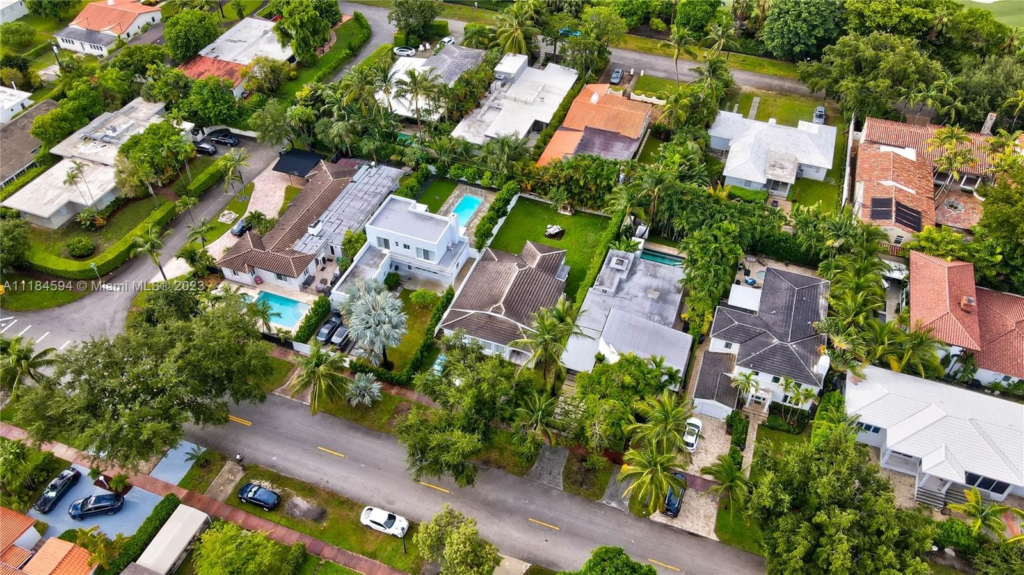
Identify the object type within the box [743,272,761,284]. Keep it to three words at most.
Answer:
umbrella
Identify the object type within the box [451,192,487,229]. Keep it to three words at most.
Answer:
swimming pool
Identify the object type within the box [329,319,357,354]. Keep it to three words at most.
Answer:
car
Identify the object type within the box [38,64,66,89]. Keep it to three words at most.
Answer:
shed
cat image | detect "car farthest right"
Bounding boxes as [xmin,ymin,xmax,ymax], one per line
[812,105,827,124]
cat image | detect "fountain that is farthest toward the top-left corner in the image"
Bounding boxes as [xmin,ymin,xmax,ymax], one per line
[213,209,241,225]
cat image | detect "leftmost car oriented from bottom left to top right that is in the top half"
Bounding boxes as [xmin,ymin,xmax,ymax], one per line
[227,214,257,237]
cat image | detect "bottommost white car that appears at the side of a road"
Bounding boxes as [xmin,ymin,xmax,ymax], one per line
[358,505,409,539]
